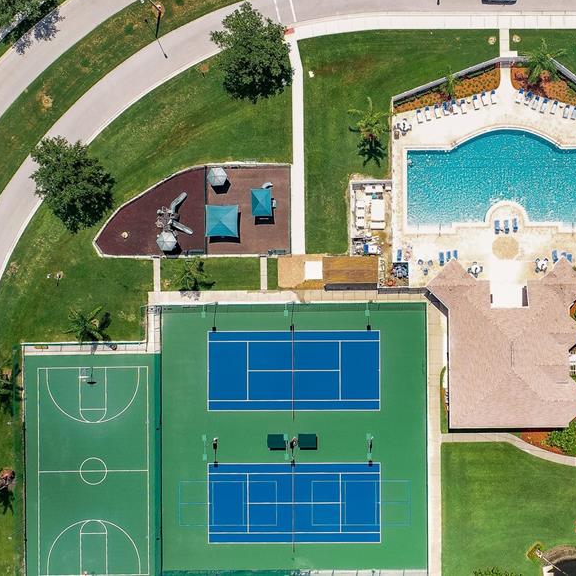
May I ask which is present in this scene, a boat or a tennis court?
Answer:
tennis court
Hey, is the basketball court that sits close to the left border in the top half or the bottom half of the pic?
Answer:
bottom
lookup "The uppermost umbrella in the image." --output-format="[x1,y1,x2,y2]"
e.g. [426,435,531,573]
[207,168,227,185]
